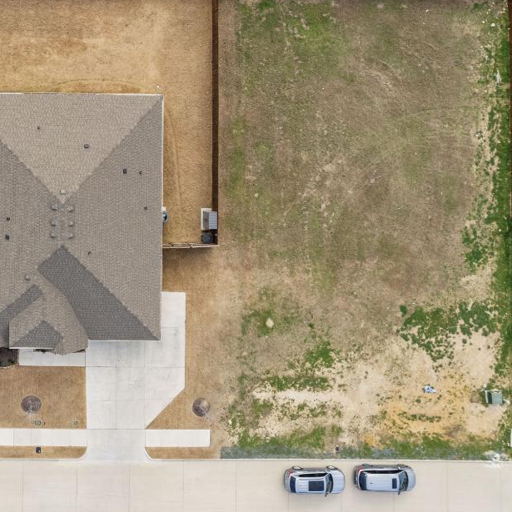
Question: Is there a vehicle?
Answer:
Yes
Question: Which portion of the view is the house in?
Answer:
left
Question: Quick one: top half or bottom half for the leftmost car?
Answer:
bottom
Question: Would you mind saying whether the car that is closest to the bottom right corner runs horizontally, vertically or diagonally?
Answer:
horizontally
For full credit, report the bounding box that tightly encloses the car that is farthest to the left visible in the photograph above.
[284,466,343,496]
